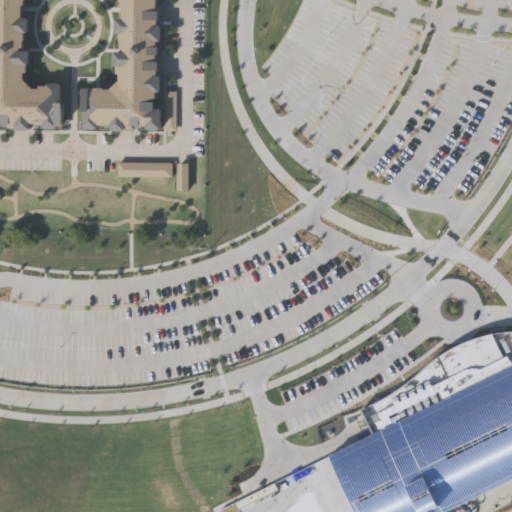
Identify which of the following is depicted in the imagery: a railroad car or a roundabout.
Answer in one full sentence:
Visible in the photo is a roundabout.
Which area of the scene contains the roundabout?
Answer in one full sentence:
Look in the right portion of the view to spot the roundabout.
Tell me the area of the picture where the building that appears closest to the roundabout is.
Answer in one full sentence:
The building that appears closest to the roundabout appears toward the bottom right of the photo.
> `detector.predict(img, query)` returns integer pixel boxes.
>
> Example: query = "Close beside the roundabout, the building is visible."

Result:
[330,333,512,512]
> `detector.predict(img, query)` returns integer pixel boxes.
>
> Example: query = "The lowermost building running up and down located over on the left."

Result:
[176,164,188,191]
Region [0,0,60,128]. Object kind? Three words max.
building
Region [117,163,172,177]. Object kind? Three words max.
building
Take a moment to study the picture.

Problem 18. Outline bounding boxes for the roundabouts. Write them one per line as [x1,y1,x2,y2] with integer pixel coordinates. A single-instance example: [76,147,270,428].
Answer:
[422,278,482,340]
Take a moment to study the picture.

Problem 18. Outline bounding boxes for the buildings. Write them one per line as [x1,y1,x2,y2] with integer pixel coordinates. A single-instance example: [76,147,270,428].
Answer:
[330,333,512,512]
[117,163,172,177]
[78,0,160,128]
[164,92,177,130]
[176,164,188,191]
[0,0,60,128]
